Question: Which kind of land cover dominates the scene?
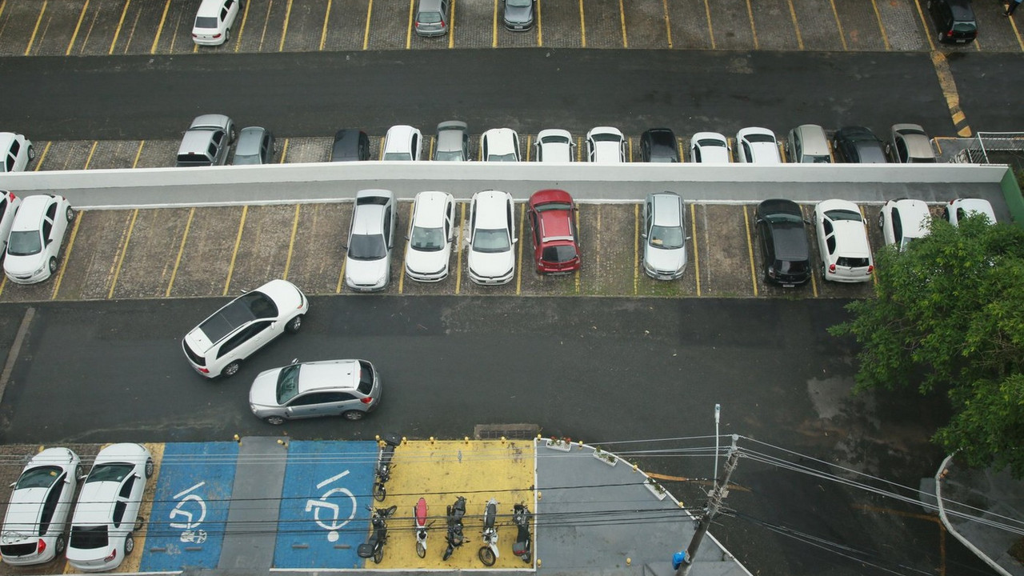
paved ground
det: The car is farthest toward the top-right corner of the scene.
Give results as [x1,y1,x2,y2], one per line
[926,0,979,42]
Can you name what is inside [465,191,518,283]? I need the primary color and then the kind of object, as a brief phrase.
white car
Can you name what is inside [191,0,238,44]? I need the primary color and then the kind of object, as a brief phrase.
white car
